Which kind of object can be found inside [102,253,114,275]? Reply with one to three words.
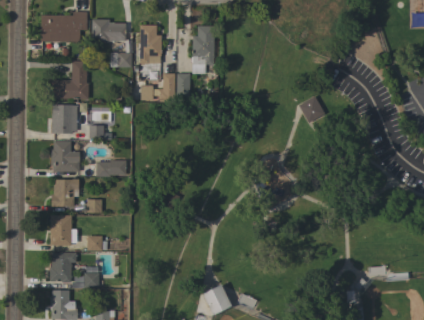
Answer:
swimming pool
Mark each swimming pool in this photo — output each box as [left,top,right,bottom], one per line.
[86,147,107,160]
[102,253,114,275]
